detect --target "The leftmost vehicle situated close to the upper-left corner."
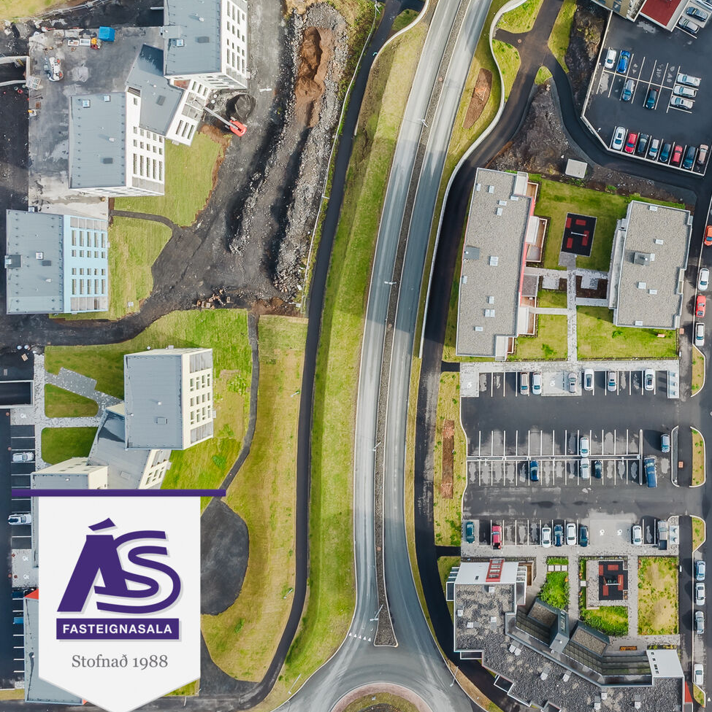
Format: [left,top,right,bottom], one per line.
[47,54,65,83]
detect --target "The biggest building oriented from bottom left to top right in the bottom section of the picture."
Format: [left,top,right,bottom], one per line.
[31,350,212,568]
